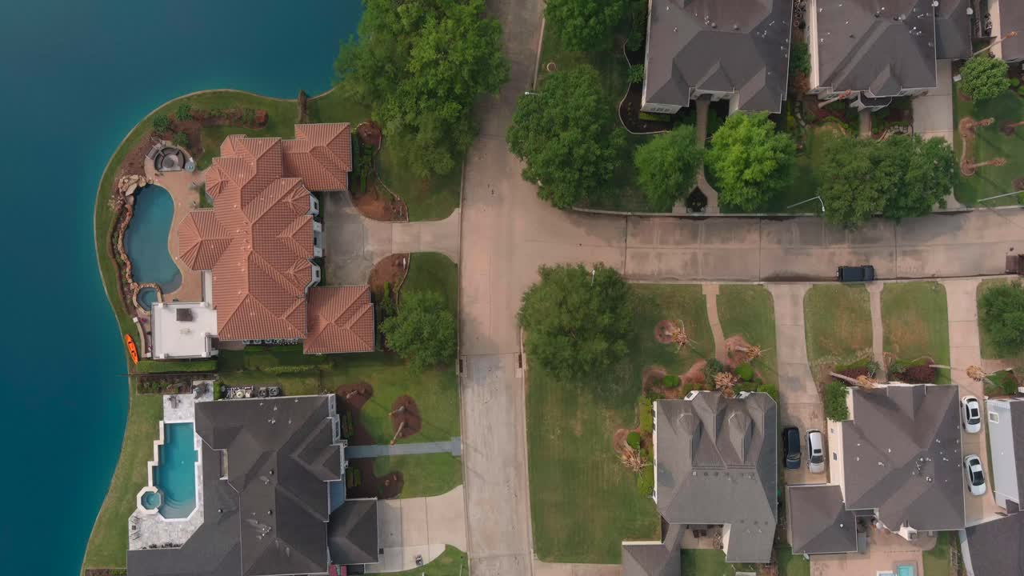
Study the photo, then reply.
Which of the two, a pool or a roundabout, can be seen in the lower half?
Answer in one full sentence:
The feature located in the lower half is a pool.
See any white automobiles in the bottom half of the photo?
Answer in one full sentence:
Yes, a white automobile can be seen in the bottom half of the photo.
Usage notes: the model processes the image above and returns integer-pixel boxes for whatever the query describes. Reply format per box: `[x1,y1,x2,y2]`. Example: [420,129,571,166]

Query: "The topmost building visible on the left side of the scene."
[152,123,375,357]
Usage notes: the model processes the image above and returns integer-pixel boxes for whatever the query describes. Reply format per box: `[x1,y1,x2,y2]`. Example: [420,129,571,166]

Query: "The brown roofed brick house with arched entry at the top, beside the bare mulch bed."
[642,0,794,120]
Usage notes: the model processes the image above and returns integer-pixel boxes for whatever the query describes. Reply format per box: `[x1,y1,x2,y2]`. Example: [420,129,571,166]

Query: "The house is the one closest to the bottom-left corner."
[127,391,380,576]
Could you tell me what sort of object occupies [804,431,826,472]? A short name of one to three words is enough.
car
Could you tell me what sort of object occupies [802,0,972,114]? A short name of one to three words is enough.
house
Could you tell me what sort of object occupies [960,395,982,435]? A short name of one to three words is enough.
car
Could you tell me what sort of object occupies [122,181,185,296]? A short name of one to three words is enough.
swimming pool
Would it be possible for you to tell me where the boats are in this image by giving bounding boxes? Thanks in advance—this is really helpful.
[126,335,138,362]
